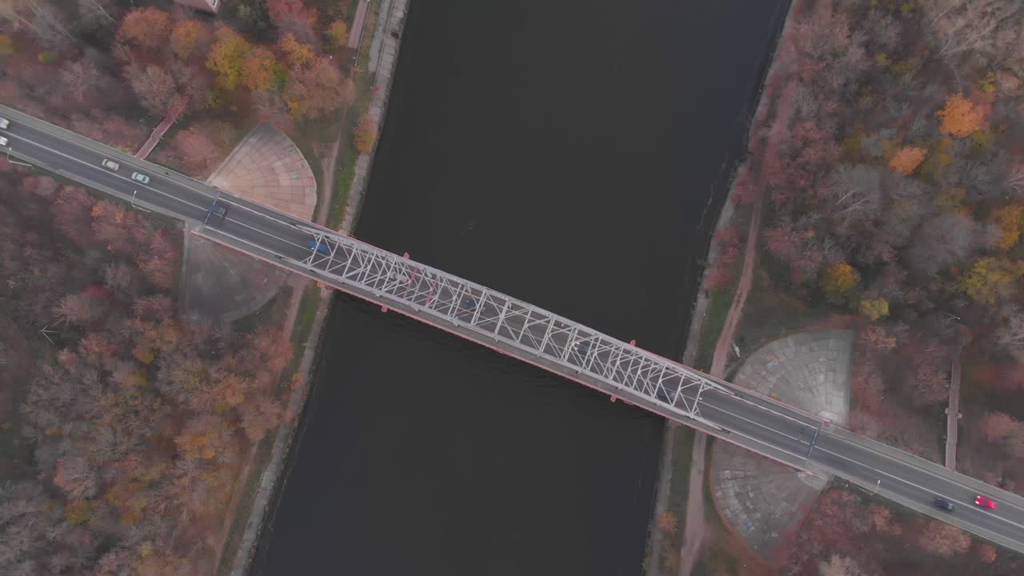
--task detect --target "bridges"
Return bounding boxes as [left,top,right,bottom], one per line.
[184,179,847,481]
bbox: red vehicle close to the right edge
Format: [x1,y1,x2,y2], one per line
[974,496,996,510]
